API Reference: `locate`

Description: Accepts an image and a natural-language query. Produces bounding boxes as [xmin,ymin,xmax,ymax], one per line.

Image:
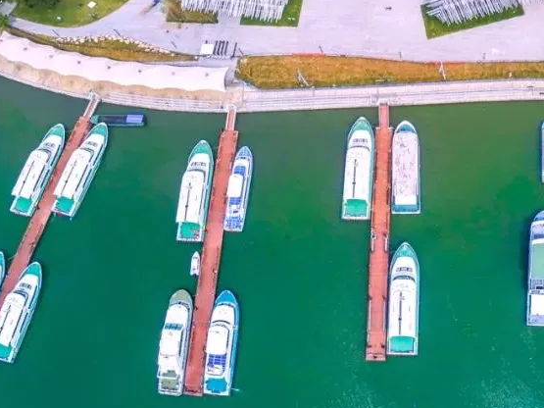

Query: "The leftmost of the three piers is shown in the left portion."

[0,94,101,303]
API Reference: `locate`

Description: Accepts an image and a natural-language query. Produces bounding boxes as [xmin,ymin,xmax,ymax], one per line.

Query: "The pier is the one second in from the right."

[184,101,239,396]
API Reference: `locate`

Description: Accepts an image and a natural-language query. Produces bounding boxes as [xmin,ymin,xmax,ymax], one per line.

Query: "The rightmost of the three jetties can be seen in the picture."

[365,100,393,361]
